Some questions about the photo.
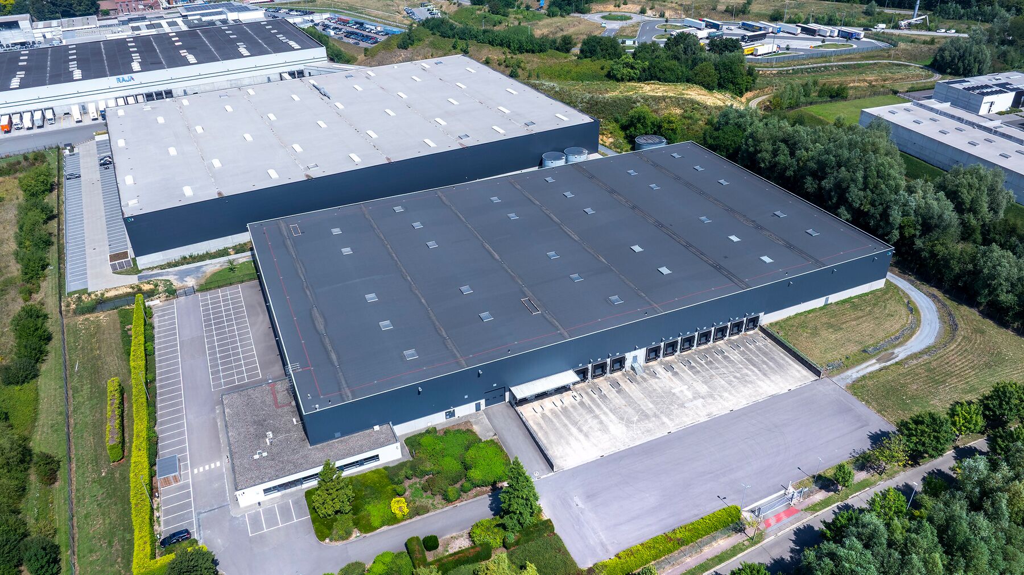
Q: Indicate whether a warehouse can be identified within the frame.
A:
Yes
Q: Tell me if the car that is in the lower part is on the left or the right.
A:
left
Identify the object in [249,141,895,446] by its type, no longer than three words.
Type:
warehouse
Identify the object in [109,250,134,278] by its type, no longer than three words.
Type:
shed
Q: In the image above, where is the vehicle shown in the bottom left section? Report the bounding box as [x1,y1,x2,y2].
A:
[159,525,191,545]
